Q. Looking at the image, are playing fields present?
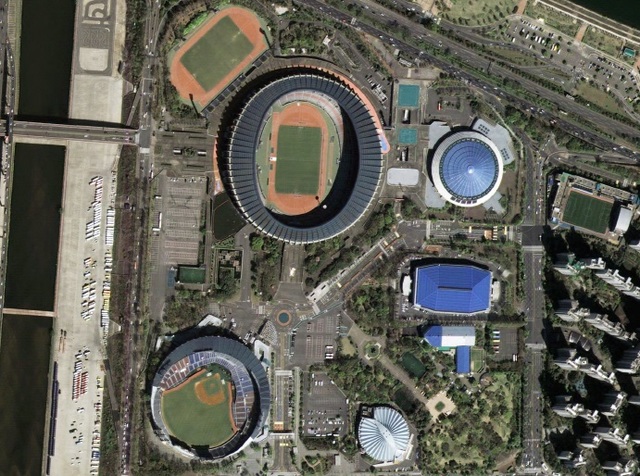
Yes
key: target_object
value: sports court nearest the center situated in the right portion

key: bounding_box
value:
[386,168,420,187]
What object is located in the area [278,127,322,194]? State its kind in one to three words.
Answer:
sports field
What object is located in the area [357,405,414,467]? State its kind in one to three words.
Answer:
building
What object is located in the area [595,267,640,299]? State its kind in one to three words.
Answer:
building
